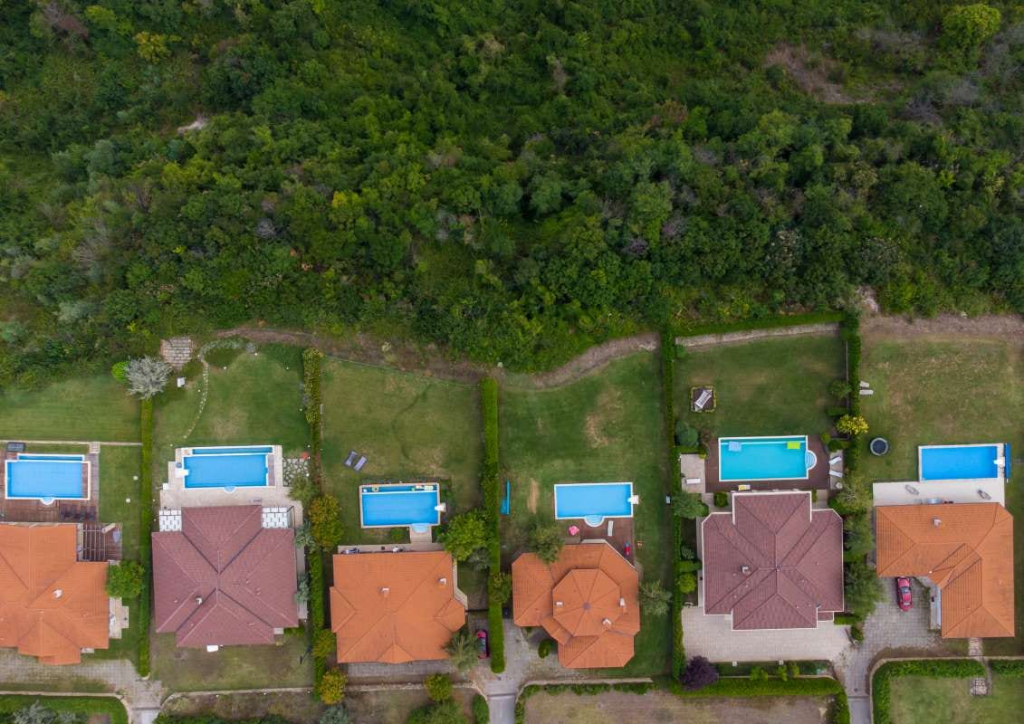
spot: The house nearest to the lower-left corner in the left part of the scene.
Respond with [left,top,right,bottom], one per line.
[0,523,115,665]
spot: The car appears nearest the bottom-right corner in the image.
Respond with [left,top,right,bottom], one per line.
[893,577,911,609]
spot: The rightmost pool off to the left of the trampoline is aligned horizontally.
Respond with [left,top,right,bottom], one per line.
[719,435,818,482]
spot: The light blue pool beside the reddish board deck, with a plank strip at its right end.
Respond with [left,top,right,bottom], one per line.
[5,454,91,507]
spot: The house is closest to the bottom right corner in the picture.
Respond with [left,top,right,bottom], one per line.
[872,502,1015,638]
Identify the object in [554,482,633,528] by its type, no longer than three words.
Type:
swimming pool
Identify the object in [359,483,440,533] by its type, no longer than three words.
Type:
swimming pool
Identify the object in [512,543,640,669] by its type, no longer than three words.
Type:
house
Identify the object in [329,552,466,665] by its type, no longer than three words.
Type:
house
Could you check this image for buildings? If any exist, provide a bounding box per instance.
[872,502,1015,638]
[512,543,640,669]
[152,504,299,654]
[702,491,844,631]
[329,552,466,665]
[0,523,115,665]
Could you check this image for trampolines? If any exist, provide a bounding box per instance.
[870,438,887,455]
